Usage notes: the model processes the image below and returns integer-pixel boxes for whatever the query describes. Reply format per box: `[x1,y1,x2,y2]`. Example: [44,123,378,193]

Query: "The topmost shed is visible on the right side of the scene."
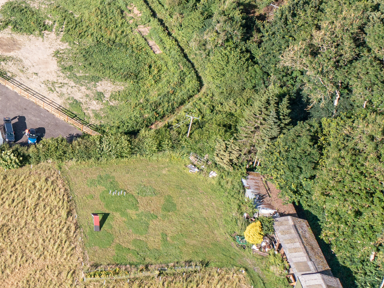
[245,172,293,225]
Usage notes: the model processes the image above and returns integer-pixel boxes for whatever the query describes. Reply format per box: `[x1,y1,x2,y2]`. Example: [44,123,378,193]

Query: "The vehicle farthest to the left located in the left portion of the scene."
[4,114,17,142]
